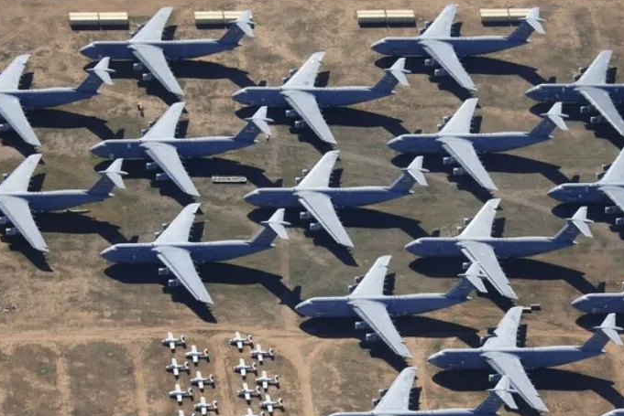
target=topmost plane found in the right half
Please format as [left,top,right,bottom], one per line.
[371,3,546,90]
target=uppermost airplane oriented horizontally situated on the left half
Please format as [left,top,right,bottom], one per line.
[79,7,255,93]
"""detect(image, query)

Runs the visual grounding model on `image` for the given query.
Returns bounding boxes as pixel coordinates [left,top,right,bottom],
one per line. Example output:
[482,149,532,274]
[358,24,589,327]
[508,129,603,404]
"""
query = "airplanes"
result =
[194,399,218,416]
[79,7,255,93]
[428,305,624,413]
[231,52,411,142]
[90,101,273,195]
[162,333,186,350]
[169,385,193,402]
[525,49,624,135]
[166,359,189,376]
[237,384,261,401]
[250,346,273,363]
[255,373,279,390]
[100,202,290,304]
[259,397,283,414]
[294,253,488,358]
[387,96,570,189]
[0,53,113,144]
[243,148,429,246]
[234,359,256,376]
[404,198,593,298]
[0,153,127,251]
[371,3,546,90]
[572,280,624,314]
[185,346,209,363]
[548,147,624,226]
[231,334,254,350]
[191,373,213,390]
[329,365,518,416]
